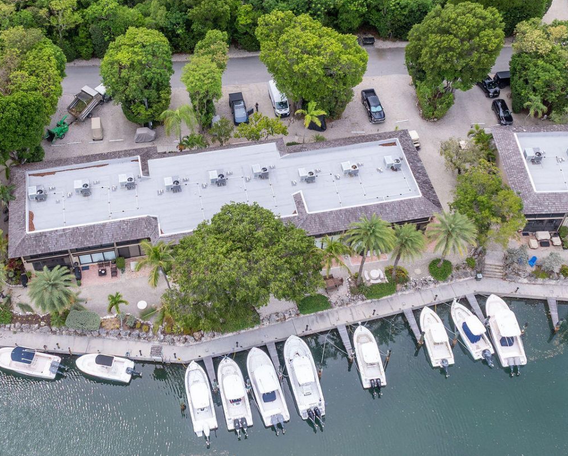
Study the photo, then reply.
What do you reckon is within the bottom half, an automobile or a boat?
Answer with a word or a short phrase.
boat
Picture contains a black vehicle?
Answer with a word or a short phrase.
Yes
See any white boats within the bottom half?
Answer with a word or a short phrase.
Yes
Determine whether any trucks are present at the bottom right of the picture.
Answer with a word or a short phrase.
No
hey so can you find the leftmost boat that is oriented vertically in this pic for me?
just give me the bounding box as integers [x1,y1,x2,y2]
[185,362,217,446]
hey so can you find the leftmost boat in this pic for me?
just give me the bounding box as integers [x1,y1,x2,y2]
[0,346,73,381]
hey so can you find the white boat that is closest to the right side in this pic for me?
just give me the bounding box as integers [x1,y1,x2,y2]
[487,296,530,379]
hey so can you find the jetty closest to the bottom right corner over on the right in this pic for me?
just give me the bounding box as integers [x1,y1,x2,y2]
[546,298,562,332]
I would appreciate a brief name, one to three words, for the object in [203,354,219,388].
pier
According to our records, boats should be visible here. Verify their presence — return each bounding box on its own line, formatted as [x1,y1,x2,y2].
[185,362,217,446]
[248,349,290,439]
[286,335,327,432]
[354,326,386,401]
[420,308,455,377]
[76,355,144,386]
[452,302,493,369]
[0,346,73,381]
[219,359,253,443]
[487,296,530,379]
